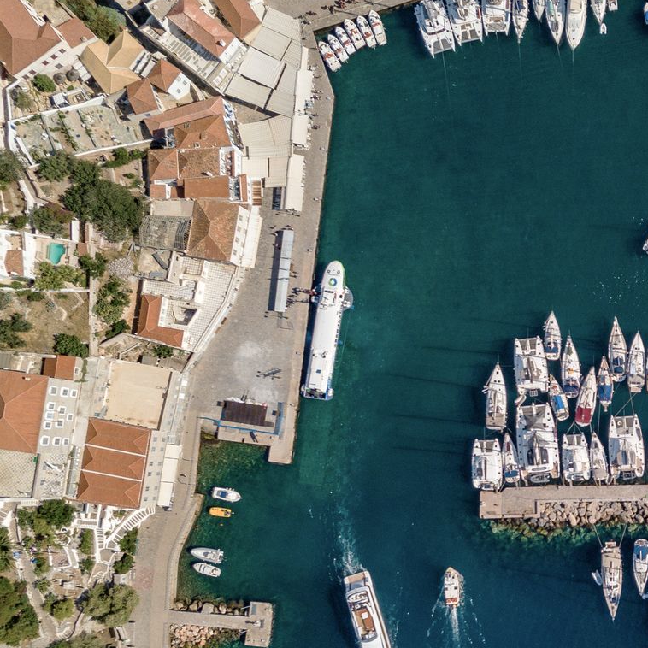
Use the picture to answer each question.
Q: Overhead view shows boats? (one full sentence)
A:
Yes, there is a boat in the image.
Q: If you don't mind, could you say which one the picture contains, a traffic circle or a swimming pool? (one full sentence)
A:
Of the two, only a swimming pool appears.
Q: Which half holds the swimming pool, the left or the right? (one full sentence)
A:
It is on the left.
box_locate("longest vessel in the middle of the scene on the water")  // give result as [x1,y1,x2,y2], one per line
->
[305,261,351,404]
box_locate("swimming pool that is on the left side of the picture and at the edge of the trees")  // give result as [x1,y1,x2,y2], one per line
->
[38,237,82,266]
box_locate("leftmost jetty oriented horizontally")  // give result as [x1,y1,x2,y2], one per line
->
[170,602,274,647]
